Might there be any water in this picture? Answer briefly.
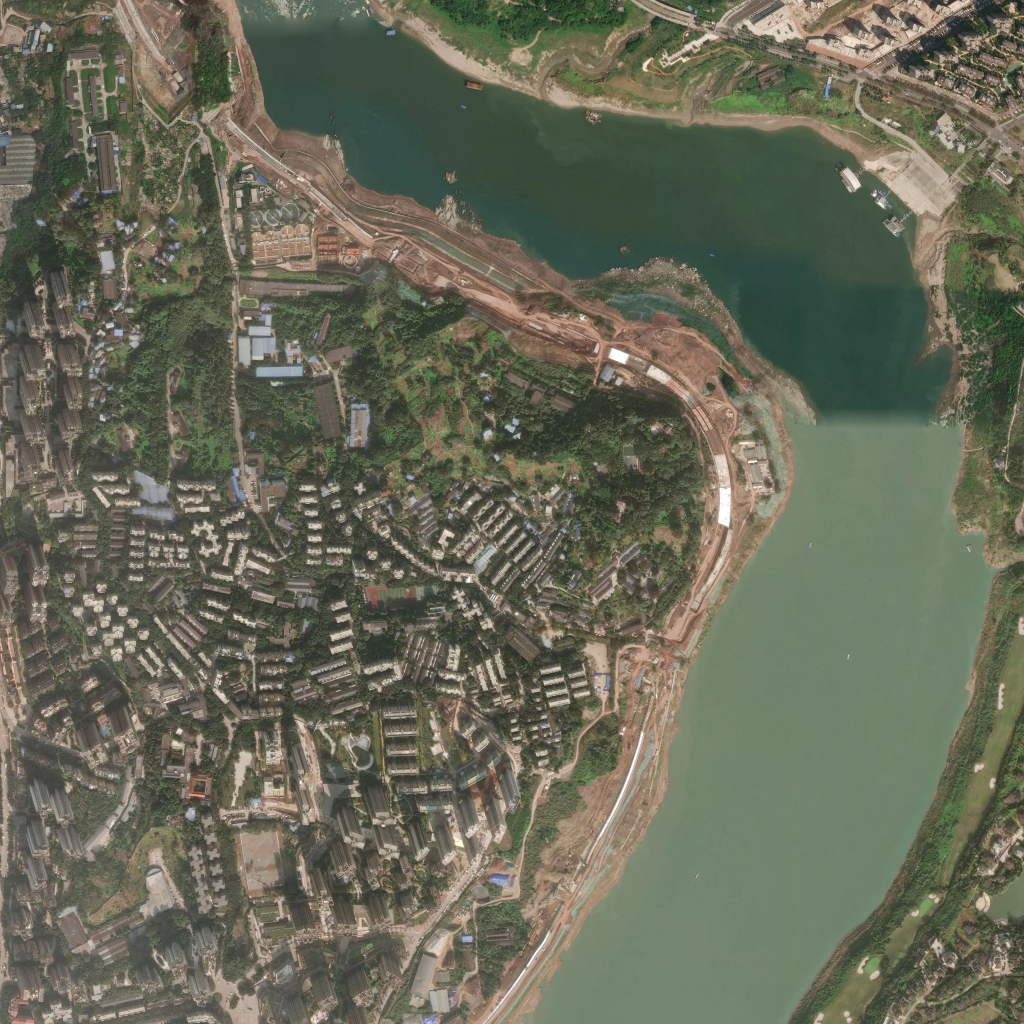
Yes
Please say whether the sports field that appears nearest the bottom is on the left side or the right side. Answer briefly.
left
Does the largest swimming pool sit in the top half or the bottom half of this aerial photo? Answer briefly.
bottom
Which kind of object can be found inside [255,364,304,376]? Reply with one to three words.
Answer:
shed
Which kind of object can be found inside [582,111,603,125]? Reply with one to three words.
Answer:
ship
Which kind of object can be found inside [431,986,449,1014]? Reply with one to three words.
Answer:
shed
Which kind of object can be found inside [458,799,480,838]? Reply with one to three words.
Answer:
building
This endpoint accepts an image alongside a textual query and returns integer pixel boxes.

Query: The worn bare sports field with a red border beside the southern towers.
[235,827,295,902]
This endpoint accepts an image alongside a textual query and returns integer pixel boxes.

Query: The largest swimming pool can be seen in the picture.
[349,735,373,768]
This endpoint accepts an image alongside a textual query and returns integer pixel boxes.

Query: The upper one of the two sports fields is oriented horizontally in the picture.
[366,585,438,608]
